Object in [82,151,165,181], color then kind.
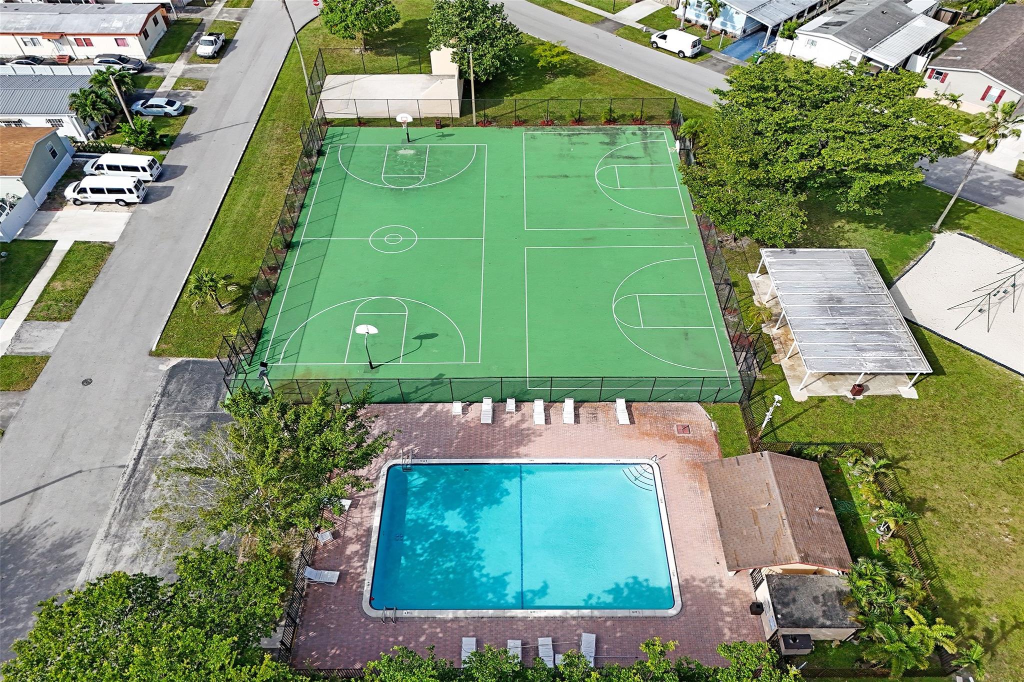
white van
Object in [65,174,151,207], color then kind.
white van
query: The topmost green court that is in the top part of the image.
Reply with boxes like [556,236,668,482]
[505,125,699,237]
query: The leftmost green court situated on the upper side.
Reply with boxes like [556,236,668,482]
[246,125,506,403]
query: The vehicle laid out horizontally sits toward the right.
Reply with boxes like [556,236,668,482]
[638,28,697,57]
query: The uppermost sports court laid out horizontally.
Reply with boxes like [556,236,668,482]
[314,39,465,117]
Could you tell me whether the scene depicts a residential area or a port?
residential area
